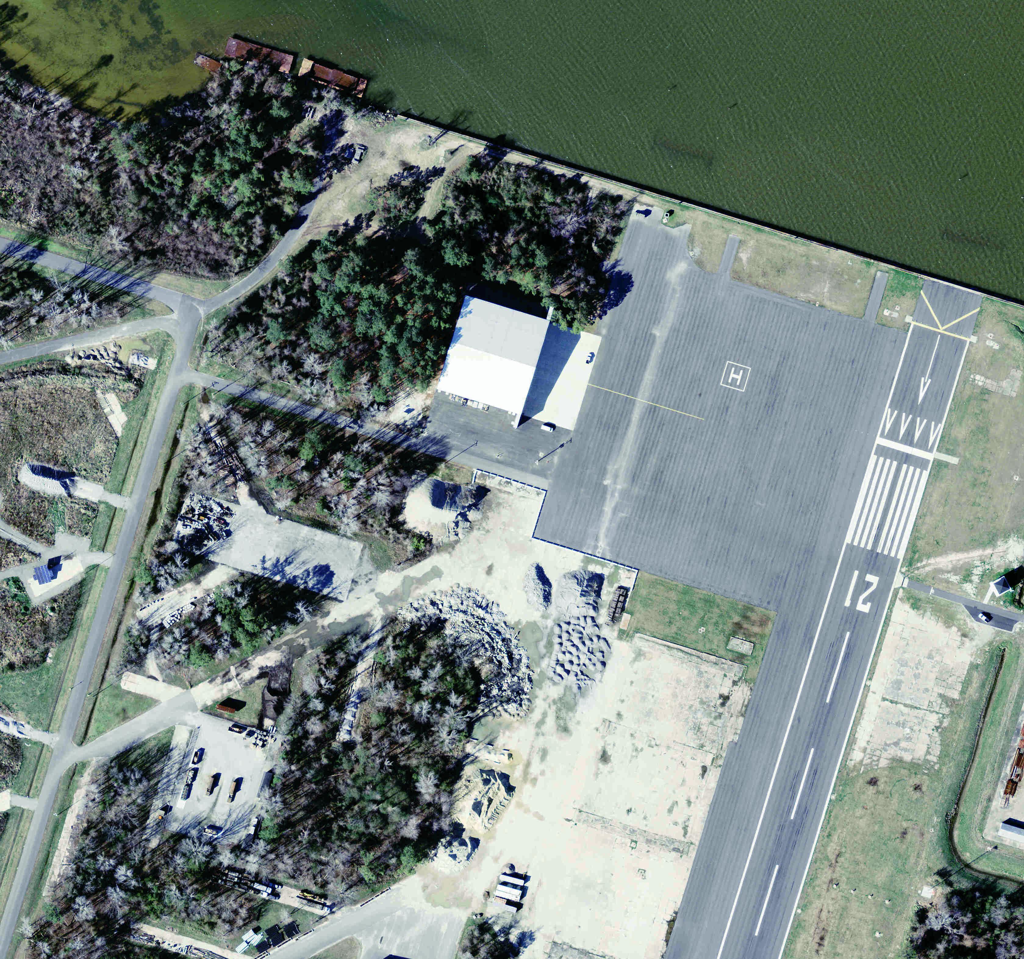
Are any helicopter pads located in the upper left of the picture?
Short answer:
No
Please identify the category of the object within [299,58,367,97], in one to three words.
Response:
ship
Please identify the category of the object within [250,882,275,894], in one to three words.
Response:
vehicle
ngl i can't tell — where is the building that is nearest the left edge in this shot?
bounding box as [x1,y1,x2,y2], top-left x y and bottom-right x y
[437,295,553,428]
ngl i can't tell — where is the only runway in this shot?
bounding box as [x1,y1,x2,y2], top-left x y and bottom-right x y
[719,280,982,959]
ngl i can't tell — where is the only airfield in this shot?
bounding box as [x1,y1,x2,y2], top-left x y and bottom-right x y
[534,204,982,959]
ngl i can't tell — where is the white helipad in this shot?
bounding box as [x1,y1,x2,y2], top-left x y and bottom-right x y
[721,361,751,391]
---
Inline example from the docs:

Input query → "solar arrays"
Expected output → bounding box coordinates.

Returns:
[32,565,53,585]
